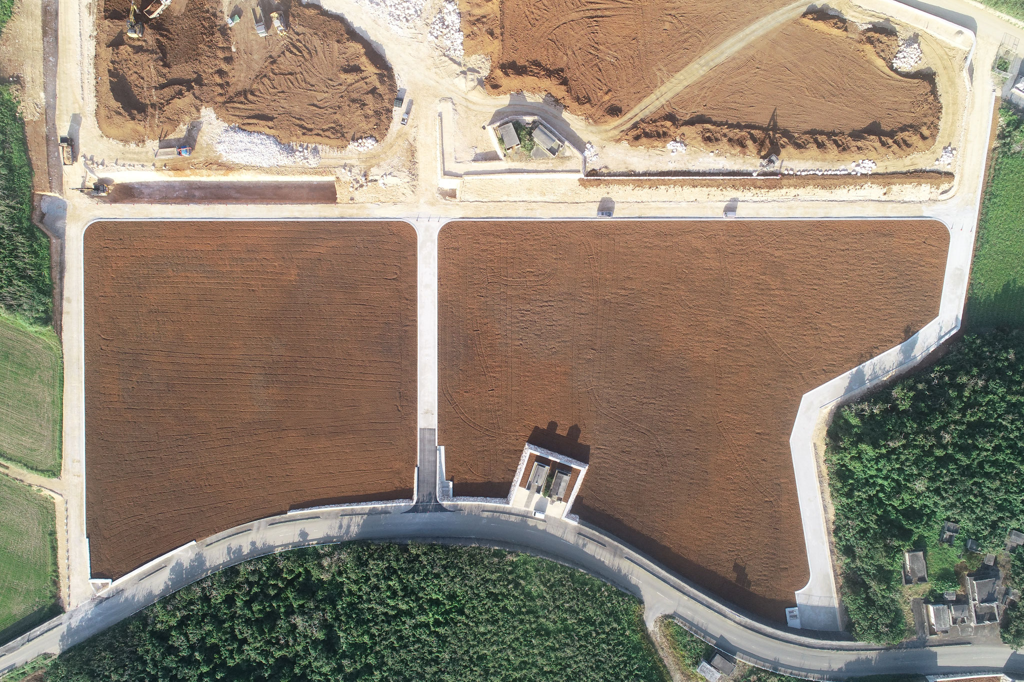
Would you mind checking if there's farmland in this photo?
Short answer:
Yes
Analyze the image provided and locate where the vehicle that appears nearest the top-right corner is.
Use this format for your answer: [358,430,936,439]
[760,150,784,175]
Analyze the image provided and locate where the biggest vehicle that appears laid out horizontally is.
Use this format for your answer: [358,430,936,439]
[148,144,191,156]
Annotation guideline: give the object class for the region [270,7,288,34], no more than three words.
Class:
work vehicle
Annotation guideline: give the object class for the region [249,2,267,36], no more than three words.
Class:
vehicle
